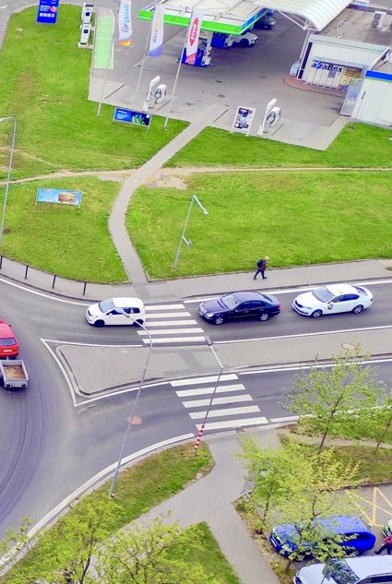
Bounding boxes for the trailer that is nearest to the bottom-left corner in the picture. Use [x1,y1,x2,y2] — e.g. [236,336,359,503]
[0,357,31,387]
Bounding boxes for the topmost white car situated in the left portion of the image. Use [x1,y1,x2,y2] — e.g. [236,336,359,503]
[88,294,149,327]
